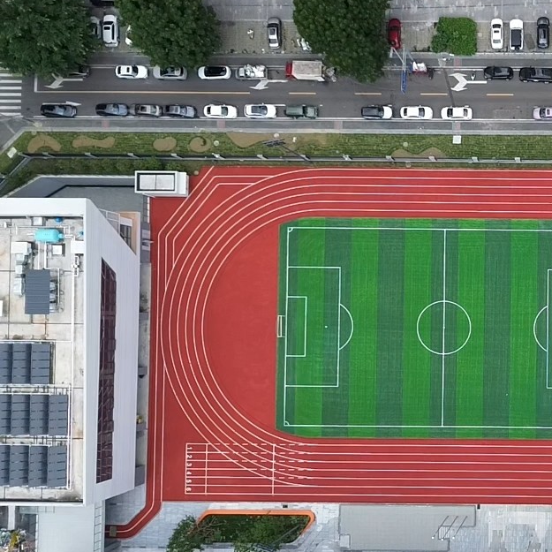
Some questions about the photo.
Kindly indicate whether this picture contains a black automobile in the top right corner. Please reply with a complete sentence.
Yes, a black automobile shows up in the top right corner.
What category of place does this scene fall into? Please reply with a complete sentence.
This image shows a sports ground.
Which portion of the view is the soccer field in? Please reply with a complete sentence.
The soccer field is in the right part of the image.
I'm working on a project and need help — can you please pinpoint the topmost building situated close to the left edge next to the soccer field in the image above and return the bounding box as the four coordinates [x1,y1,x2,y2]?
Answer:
[0,199,144,505]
